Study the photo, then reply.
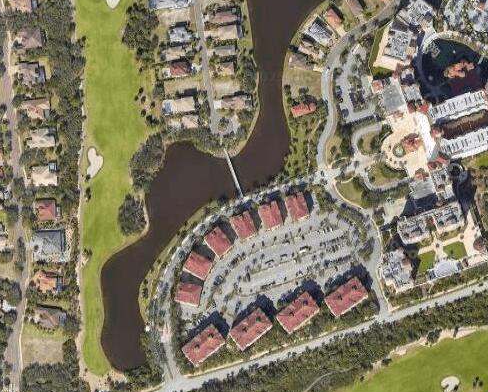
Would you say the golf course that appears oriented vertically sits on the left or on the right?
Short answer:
left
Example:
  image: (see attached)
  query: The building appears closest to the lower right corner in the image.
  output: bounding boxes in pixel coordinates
[431,259,461,281]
